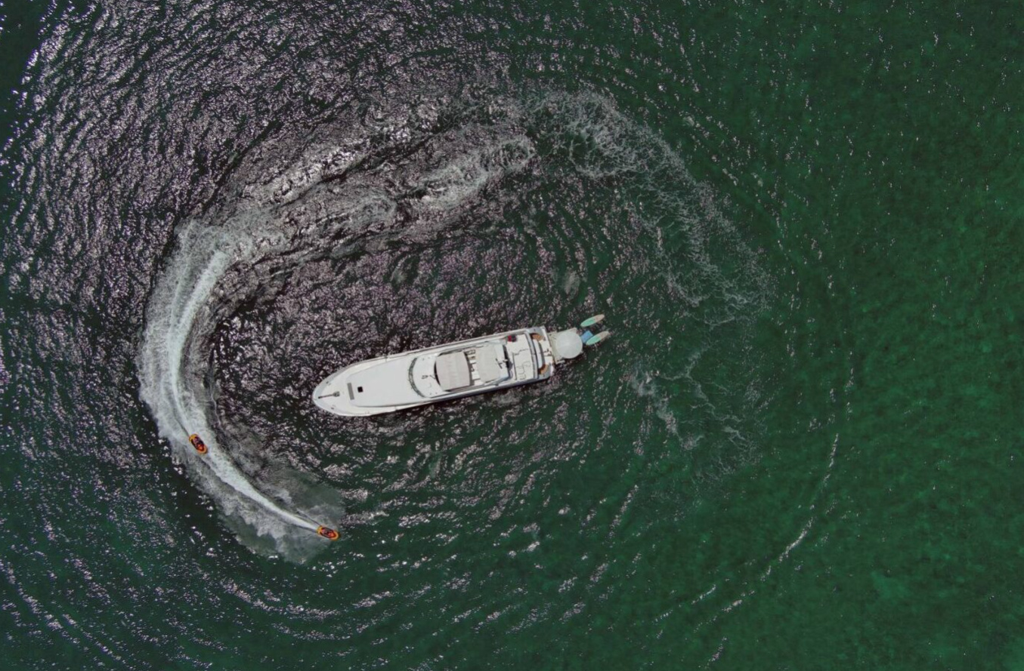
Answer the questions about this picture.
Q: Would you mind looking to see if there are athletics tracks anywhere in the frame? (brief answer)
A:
No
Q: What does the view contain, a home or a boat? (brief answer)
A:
boat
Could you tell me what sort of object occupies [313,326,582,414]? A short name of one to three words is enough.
boat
